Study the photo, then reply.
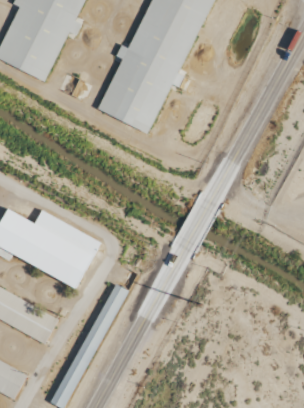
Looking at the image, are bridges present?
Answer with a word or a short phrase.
Yes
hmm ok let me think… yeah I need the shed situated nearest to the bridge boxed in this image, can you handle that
[52,286,128,408]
